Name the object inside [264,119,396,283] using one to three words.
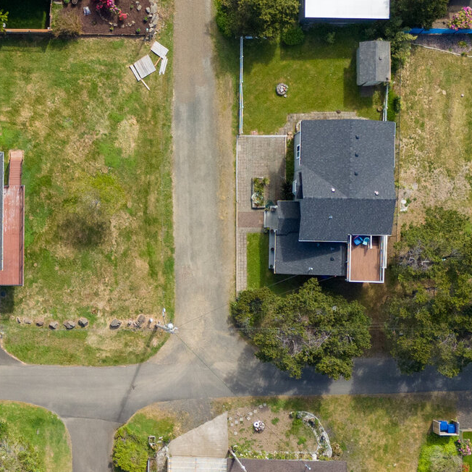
house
